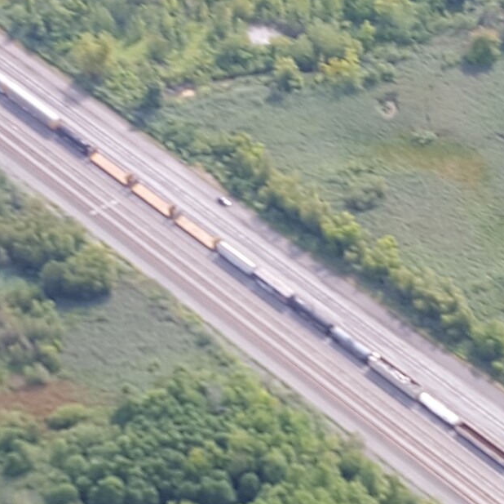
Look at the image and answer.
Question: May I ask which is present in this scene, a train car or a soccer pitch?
train car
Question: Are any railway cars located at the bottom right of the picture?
Yes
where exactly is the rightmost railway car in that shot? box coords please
[420,394,461,429]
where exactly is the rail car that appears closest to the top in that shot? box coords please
[58,125,93,155]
